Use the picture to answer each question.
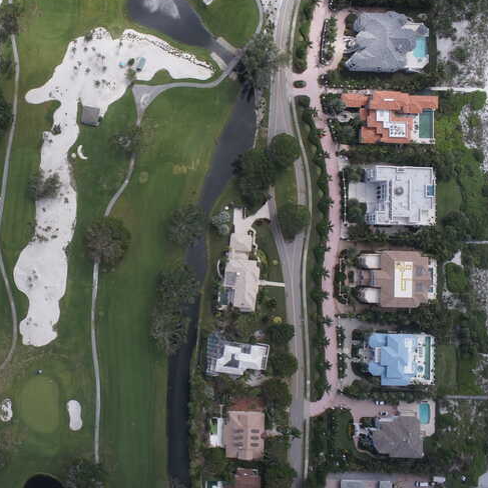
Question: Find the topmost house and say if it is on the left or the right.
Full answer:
You can find the topmost house on the right side of the picture.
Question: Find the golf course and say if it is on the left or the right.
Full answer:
The golf course appears in the left half of the scene.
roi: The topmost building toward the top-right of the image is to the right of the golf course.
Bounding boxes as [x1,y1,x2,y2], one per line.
[341,10,430,73]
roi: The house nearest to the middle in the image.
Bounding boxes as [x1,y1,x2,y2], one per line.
[219,232,259,313]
